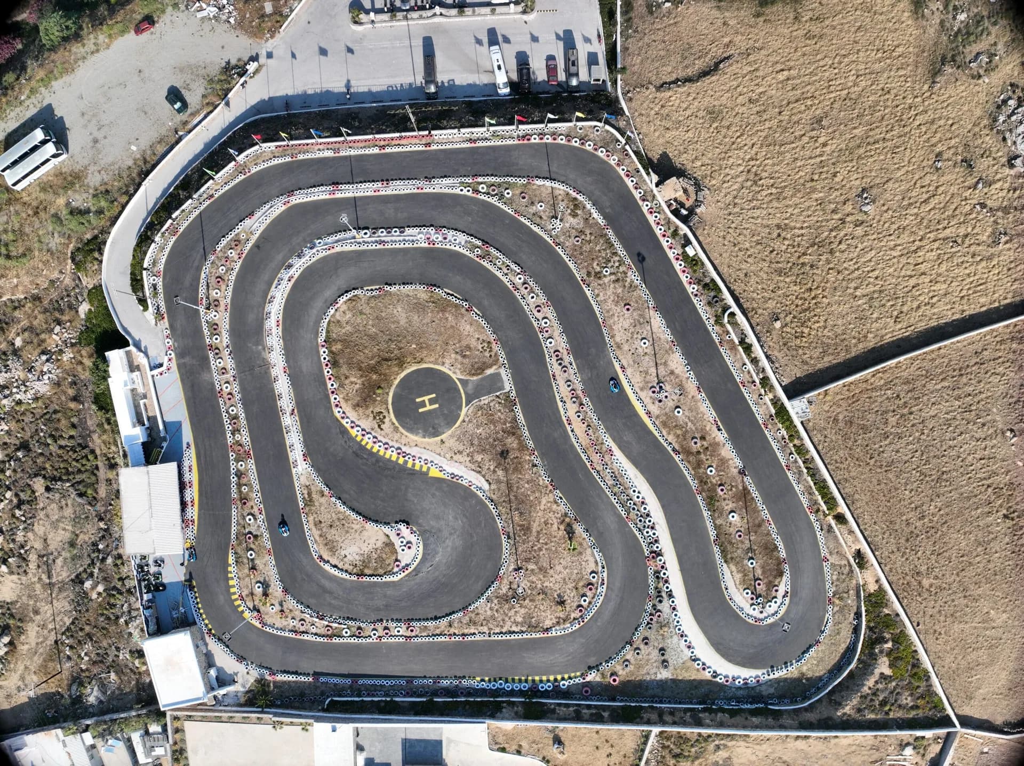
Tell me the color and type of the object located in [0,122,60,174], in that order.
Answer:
white bus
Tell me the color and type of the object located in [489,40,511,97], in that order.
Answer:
white vehicle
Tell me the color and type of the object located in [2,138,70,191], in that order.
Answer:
white bus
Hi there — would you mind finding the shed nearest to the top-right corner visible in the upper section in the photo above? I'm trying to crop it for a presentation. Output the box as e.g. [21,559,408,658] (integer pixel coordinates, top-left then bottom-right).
[657,176,683,205]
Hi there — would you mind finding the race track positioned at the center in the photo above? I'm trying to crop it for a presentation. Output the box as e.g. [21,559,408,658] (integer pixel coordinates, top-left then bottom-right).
[162,142,827,678]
